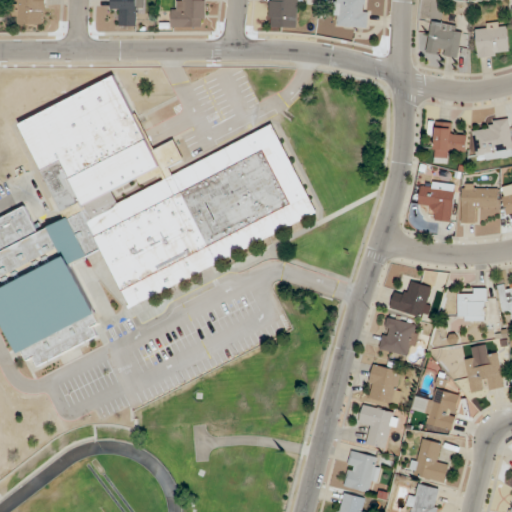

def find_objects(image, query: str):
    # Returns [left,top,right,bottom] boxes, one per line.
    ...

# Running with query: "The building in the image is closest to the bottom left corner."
[0,206,99,367]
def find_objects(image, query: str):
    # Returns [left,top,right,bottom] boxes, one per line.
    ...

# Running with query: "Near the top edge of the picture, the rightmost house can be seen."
[475,22,509,58]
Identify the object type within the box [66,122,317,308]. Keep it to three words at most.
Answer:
building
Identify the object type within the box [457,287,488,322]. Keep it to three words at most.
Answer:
house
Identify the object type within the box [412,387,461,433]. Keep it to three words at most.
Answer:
house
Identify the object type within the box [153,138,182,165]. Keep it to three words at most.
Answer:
building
